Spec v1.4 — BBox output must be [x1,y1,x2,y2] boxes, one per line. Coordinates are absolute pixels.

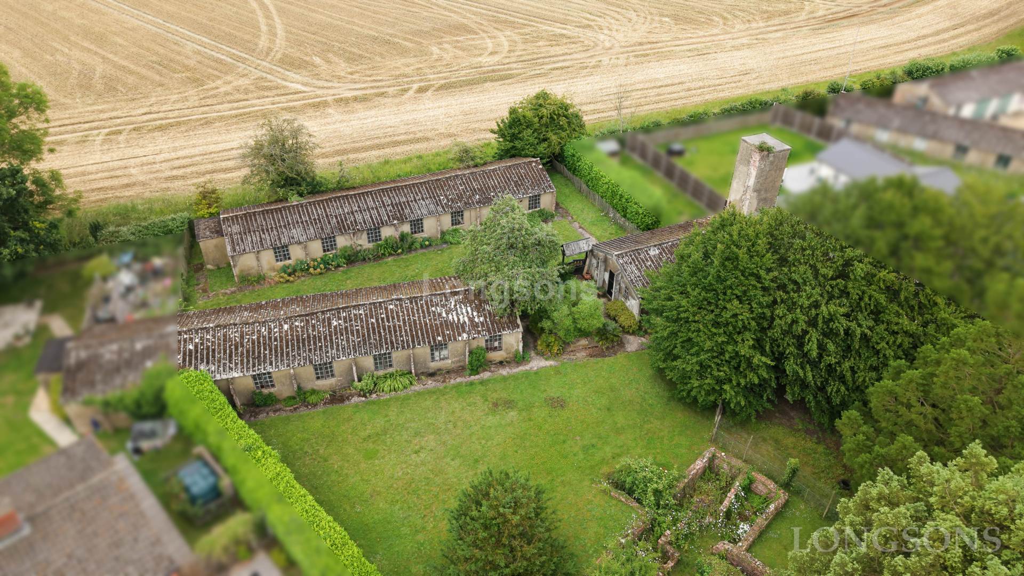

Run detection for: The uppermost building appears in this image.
[886,58,1024,127]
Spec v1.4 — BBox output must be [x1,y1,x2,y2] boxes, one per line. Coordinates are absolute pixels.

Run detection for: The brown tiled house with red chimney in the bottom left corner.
[0,434,207,576]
